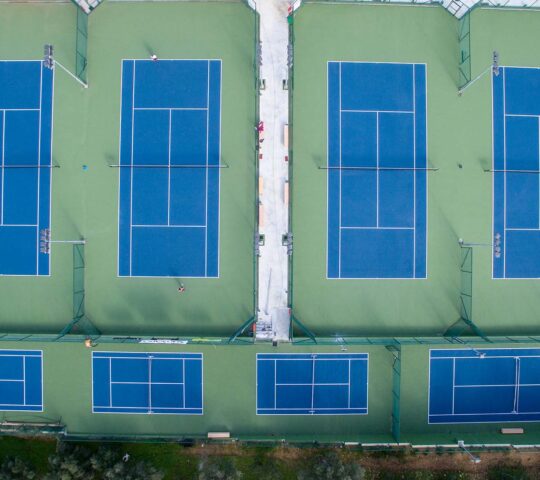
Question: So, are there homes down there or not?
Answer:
No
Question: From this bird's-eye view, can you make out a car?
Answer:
No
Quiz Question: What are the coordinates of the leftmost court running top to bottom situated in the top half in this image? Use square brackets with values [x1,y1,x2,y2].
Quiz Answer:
[0,60,54,276]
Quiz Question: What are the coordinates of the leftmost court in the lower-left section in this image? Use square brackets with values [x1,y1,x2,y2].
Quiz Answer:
[0,350,43,411]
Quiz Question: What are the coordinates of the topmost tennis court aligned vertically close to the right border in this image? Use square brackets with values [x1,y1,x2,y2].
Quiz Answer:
[492,66,540,279]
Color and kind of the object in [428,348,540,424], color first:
blue tennis court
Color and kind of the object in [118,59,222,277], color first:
blue tennis court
